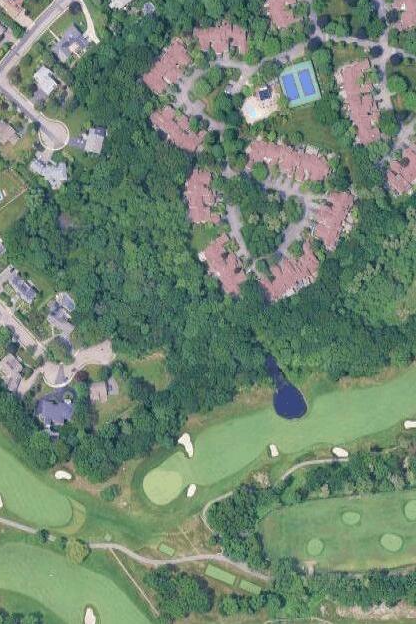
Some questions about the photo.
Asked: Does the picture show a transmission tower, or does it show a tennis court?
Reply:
tennis court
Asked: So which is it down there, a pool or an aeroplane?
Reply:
pool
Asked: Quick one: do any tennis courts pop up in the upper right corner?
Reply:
Yes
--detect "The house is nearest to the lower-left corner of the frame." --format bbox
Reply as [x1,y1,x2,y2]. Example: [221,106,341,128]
[36,400,75,427]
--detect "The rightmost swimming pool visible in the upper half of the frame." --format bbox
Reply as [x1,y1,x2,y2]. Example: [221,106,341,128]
[241,95,278,124]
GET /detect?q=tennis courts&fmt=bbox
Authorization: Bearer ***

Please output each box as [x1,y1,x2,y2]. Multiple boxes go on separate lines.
[296,64,321,103]
[279,68,305,107]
